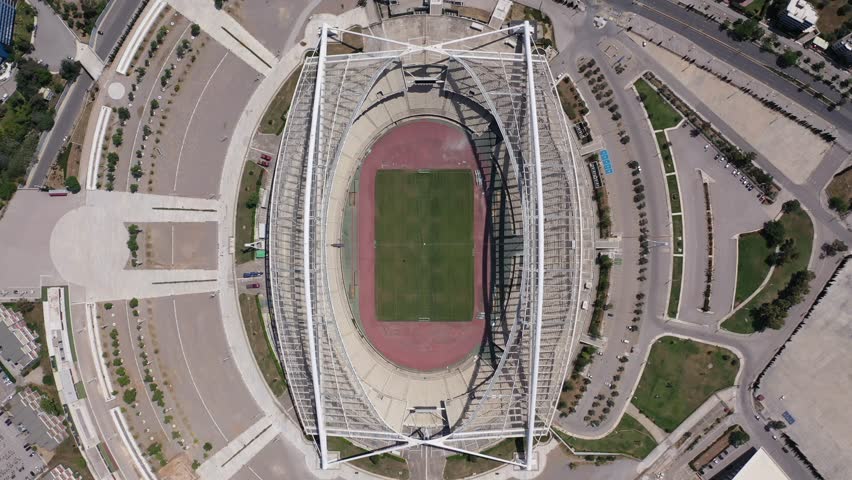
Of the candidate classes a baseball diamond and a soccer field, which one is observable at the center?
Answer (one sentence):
You can see a soccer field at the center.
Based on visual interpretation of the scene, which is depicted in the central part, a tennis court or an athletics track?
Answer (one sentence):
You can see an athletics track in the central part.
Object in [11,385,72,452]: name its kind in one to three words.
building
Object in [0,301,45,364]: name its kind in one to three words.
building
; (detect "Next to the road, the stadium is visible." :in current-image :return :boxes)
[270,20,581,474]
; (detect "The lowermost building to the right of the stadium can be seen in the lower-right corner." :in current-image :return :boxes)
[724,444,795,480]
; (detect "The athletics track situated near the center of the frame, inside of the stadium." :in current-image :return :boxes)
[358,121,490,372]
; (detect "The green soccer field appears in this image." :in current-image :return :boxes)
[376,170,473,321]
